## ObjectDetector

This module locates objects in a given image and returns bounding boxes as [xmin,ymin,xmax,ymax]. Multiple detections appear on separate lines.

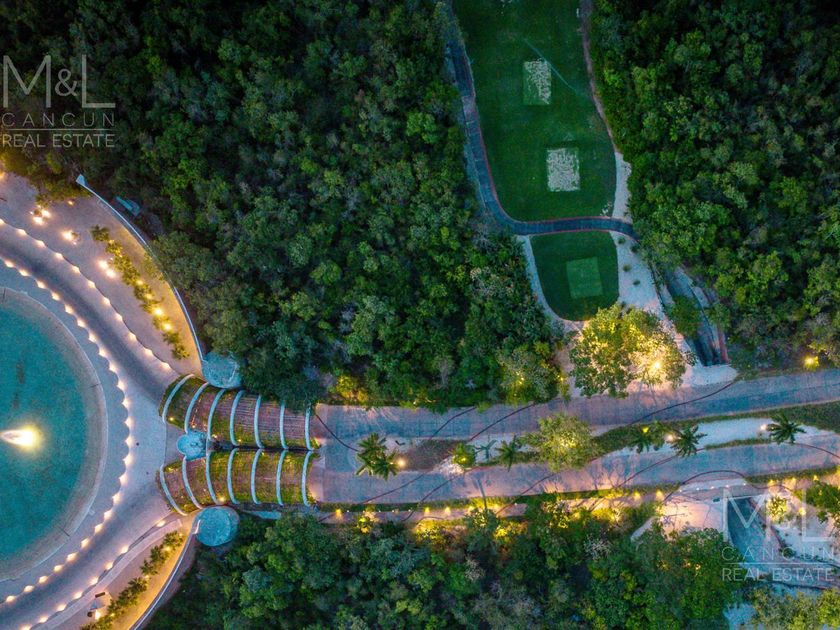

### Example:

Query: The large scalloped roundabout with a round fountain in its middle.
[0,222,171,630]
